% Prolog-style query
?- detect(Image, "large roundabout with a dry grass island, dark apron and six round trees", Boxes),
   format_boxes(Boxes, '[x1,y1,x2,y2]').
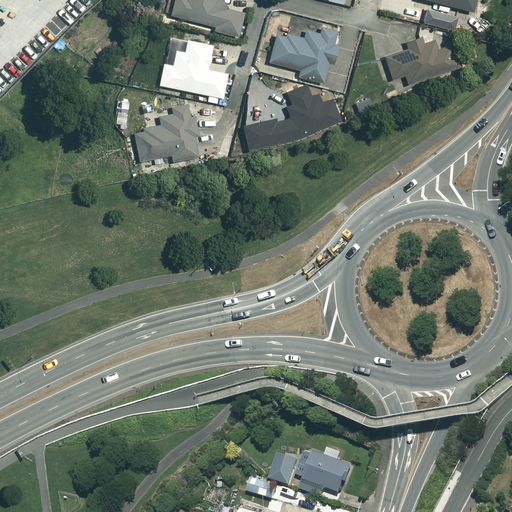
[338,201,512,379]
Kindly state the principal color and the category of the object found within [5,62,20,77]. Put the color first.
red car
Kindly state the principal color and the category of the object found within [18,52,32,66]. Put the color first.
red vehicle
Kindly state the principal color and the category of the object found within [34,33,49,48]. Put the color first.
white car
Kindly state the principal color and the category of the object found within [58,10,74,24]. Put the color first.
white car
